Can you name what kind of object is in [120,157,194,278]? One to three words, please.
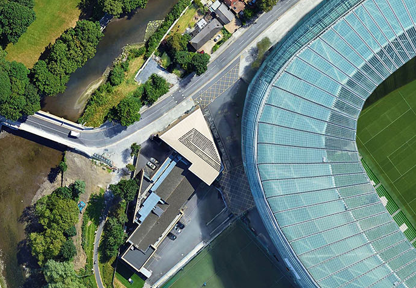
building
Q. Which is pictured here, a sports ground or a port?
sports ground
